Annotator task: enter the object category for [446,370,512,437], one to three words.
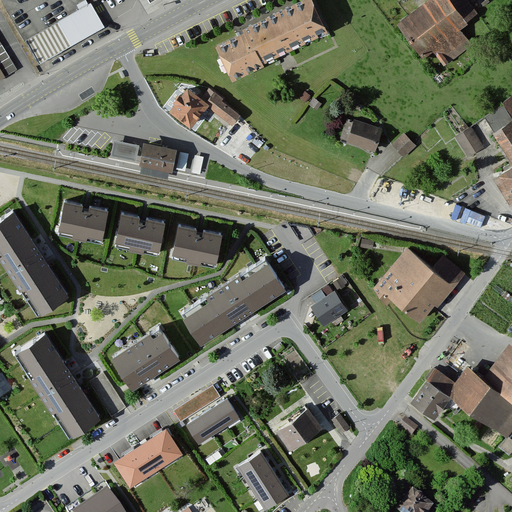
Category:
barn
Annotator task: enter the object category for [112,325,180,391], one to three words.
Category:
building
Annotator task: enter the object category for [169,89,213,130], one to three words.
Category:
house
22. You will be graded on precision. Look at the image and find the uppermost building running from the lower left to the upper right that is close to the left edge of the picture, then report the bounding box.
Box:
[26,0,104,64]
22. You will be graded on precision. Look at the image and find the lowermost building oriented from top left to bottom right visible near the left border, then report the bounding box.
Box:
[12,331,101,442]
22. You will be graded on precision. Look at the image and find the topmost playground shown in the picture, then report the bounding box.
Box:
[78,292,152,349]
